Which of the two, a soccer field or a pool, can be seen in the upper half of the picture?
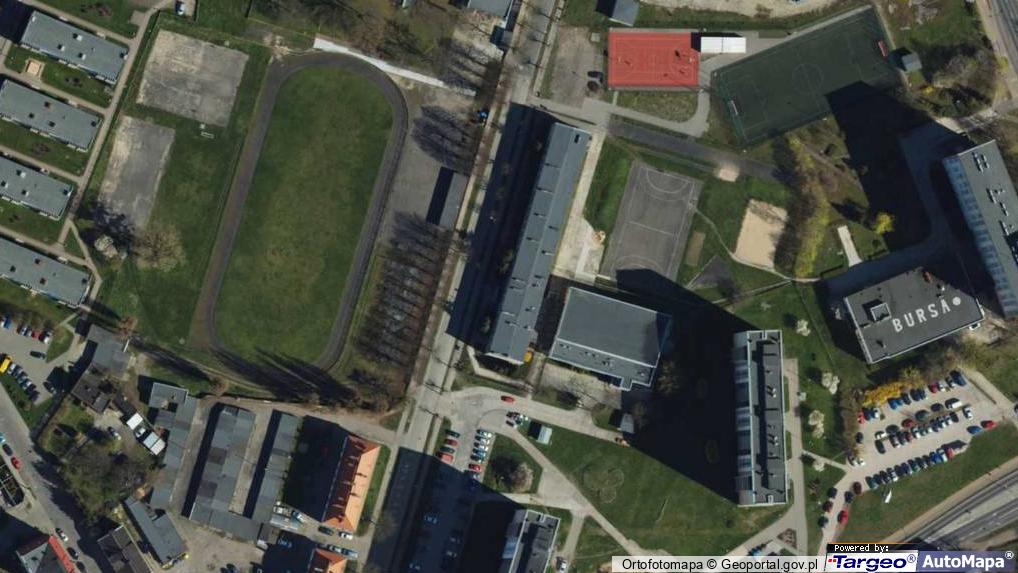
soccer field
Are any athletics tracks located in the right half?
Yes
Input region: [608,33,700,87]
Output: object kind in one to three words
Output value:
basketball court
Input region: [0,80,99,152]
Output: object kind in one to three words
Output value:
building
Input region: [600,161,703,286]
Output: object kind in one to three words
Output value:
sports court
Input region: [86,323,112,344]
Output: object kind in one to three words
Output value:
shed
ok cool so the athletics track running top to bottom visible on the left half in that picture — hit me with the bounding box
[190,51,407,383]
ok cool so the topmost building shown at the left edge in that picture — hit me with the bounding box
[20,11,128,83]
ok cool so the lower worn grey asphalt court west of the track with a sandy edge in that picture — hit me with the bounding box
[97,116,173,229]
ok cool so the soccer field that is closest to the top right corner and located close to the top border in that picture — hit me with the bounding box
[709,4,912,143]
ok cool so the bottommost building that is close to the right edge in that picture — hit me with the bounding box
[842,267,984,362]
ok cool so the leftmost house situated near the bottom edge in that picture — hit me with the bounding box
[15,533,77,573]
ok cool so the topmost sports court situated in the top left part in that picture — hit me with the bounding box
[138,32,249,124]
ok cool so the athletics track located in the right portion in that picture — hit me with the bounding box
[606,120,789,184]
